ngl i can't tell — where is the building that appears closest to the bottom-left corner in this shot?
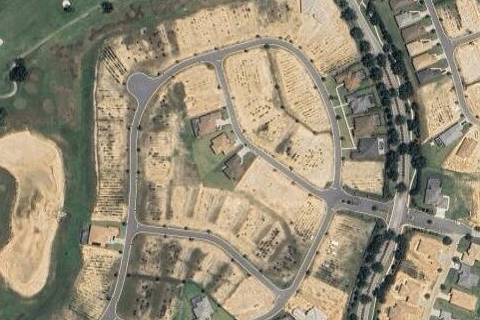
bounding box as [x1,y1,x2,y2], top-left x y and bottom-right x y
[86,227,113,245]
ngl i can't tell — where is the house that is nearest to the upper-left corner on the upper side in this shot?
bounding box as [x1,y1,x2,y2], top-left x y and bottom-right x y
[189,113,219,132]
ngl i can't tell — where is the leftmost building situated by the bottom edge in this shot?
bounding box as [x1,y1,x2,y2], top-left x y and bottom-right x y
[189,294,214,320]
